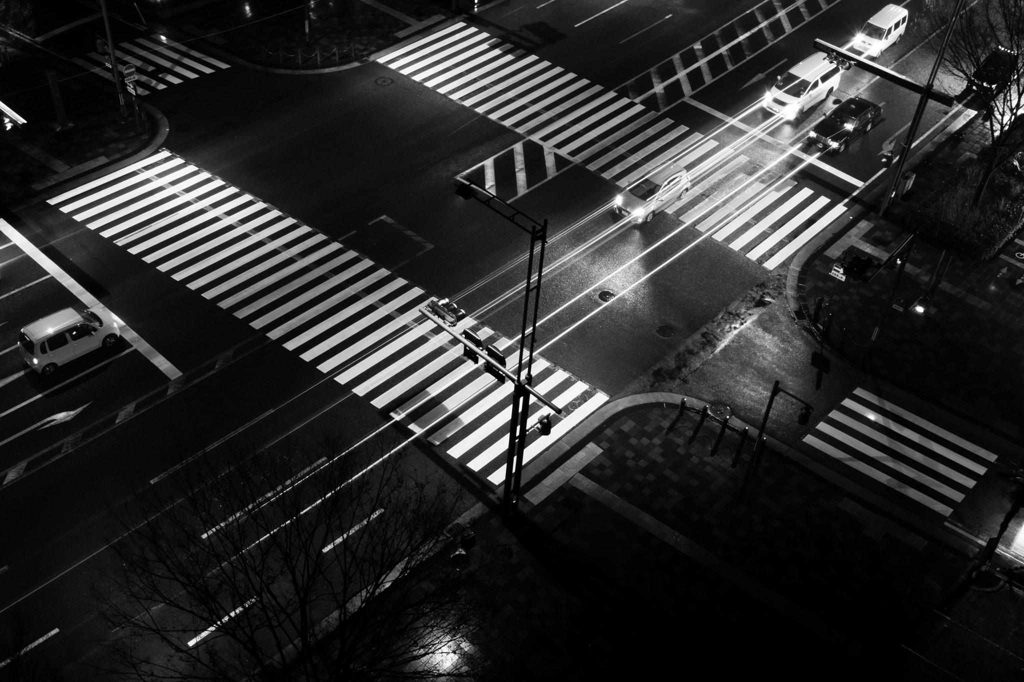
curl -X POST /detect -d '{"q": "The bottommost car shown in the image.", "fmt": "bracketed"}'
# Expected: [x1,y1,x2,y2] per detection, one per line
[15,302,119,376]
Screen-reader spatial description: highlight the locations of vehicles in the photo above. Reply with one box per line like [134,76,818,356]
[611,154,694,223]
[15,302,119,376]
[756,49,838,118]
[847,0,917,54]
[803,89,884,150]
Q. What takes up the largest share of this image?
paved ground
